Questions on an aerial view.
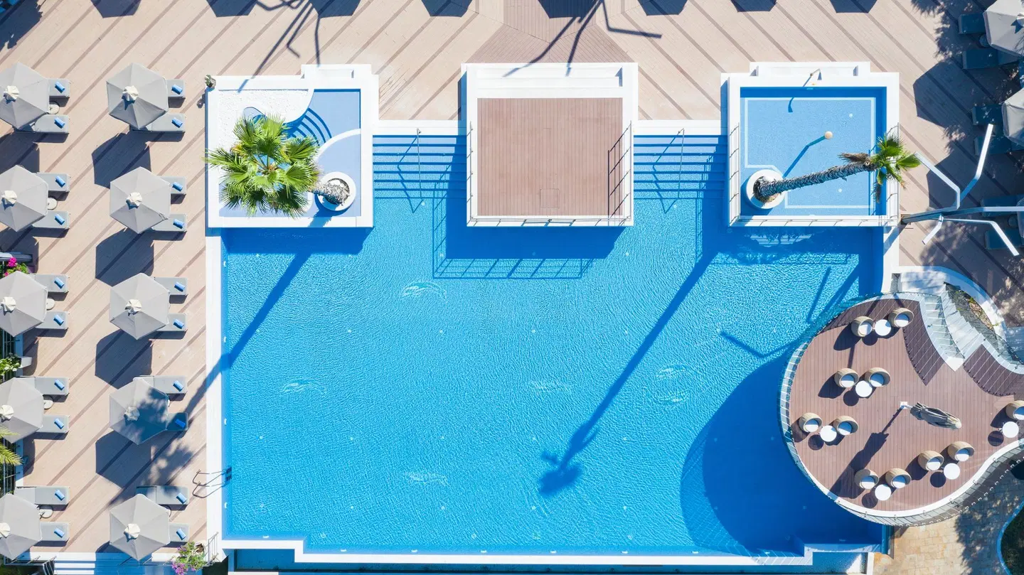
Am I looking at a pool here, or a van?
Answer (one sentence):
Looking from above, you can make out a pool.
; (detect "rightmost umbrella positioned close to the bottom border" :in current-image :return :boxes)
[109,493,171,562]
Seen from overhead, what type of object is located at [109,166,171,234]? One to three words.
umbrella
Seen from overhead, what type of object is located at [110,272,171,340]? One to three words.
umbrella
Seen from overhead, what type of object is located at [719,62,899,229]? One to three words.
swimming pool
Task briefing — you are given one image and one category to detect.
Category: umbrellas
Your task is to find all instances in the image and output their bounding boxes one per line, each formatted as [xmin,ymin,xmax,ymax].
[108,376,170,445]
[107,61,169,130]
[0,376,54,445]
[109,493,171,562]
[110,272,171,340]
[992,90,1024,149]
[0,492,52,561]
[0,61,59,130]
[0,270,57,338]
[109,166,171,234]
[976,0,1024,58]
[0,164,58,233]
